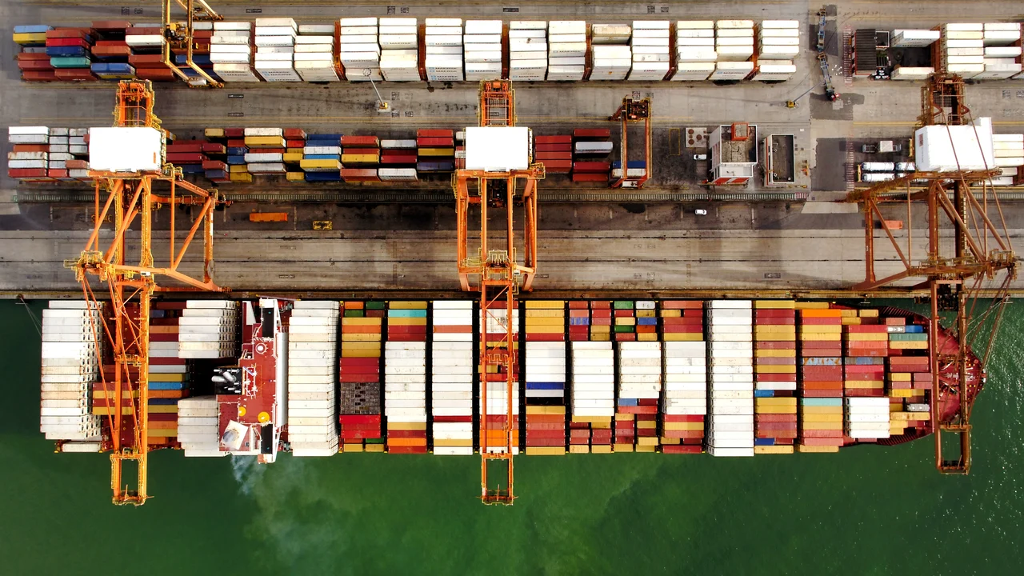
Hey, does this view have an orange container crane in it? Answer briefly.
Yes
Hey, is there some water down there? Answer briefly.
Yes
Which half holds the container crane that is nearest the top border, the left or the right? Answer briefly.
left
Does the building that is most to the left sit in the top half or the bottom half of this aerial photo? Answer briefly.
top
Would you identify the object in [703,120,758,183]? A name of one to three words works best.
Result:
building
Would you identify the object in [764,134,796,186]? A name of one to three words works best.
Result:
building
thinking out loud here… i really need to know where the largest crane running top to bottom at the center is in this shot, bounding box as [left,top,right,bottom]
[454,78,548,507]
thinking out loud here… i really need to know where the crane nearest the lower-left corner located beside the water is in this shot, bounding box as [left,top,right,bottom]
[64,79,233,506]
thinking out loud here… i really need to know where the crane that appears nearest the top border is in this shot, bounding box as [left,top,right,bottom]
[161,0,224,88]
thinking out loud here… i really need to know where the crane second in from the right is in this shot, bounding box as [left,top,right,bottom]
[608,97,656,190]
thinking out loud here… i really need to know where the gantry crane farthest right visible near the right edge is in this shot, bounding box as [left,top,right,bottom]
[839,71,1013,476]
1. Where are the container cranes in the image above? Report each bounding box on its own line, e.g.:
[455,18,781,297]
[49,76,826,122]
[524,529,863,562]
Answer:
[608,97,656,190]
[839,71,1013,476]
[454,78,548,507]
[64,79,233,506]
[161,0,224,88]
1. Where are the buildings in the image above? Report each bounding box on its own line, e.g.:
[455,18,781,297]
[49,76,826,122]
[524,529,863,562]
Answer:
[764,134,796,186]
[703,120,758,183]
[850,30,876,79]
